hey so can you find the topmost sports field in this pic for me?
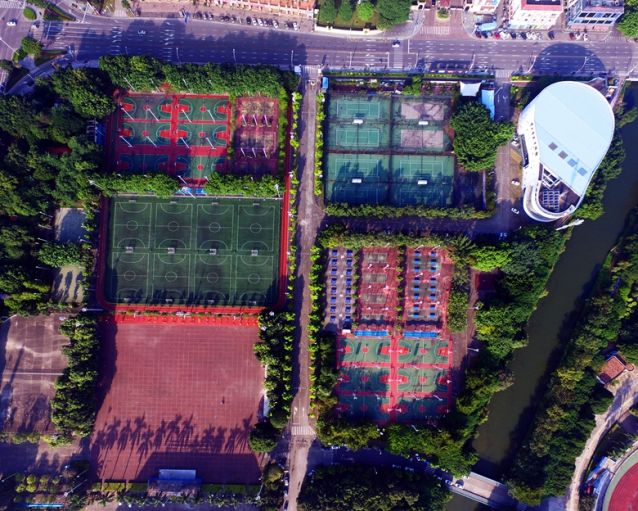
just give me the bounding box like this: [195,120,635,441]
[97,92,292,314]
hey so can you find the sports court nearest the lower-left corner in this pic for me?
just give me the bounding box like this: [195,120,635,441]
[51,264,84,303]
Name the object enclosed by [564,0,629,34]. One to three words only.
building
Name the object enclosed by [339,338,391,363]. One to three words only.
basketball court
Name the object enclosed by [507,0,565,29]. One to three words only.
building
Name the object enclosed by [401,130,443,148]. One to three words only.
tennis court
